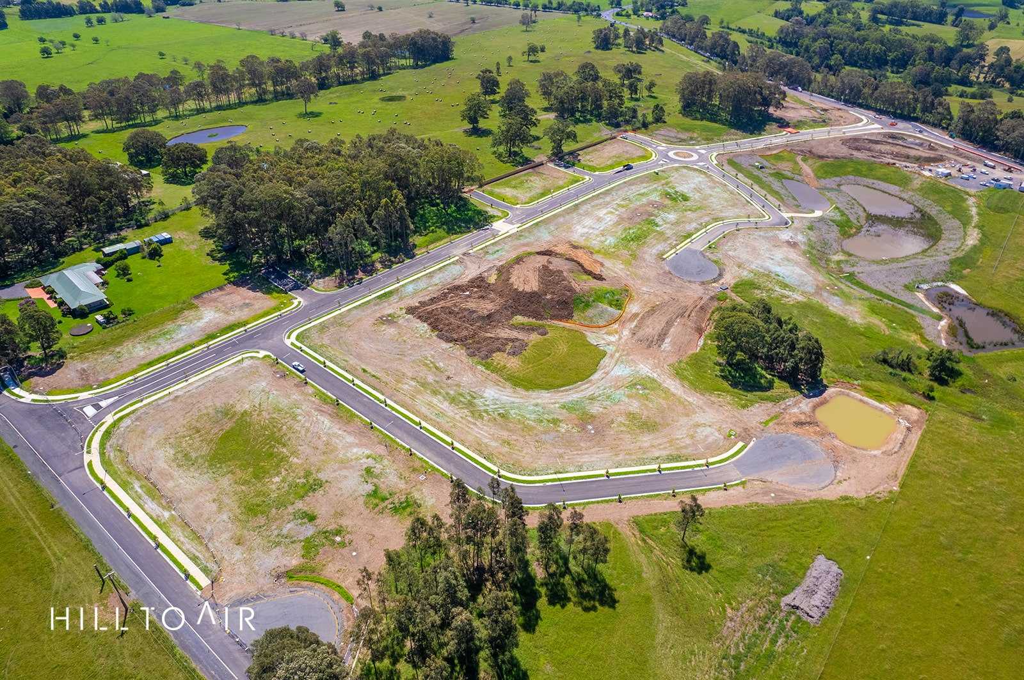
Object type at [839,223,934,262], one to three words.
pond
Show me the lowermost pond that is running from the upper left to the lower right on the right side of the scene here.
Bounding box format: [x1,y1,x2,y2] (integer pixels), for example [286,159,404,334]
[924,286,1024,356]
